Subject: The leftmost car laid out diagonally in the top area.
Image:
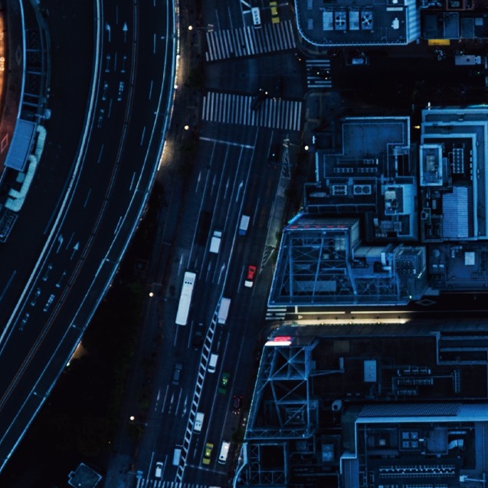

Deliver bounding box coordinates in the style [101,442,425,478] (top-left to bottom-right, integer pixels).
[250,91,268,113]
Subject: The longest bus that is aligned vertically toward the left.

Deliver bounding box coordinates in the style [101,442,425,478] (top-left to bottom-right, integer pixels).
[174,271,195,326]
